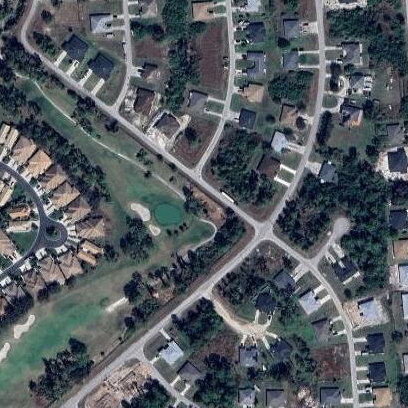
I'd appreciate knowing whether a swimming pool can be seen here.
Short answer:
No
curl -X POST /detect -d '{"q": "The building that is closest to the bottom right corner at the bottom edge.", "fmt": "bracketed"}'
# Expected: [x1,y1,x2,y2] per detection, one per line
[374,387,391,406]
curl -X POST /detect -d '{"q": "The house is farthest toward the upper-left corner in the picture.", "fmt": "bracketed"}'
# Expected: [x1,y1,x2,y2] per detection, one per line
[61,31,90,58]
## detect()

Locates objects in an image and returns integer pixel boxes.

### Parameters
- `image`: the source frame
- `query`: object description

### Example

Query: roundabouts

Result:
[39,219,67,248]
